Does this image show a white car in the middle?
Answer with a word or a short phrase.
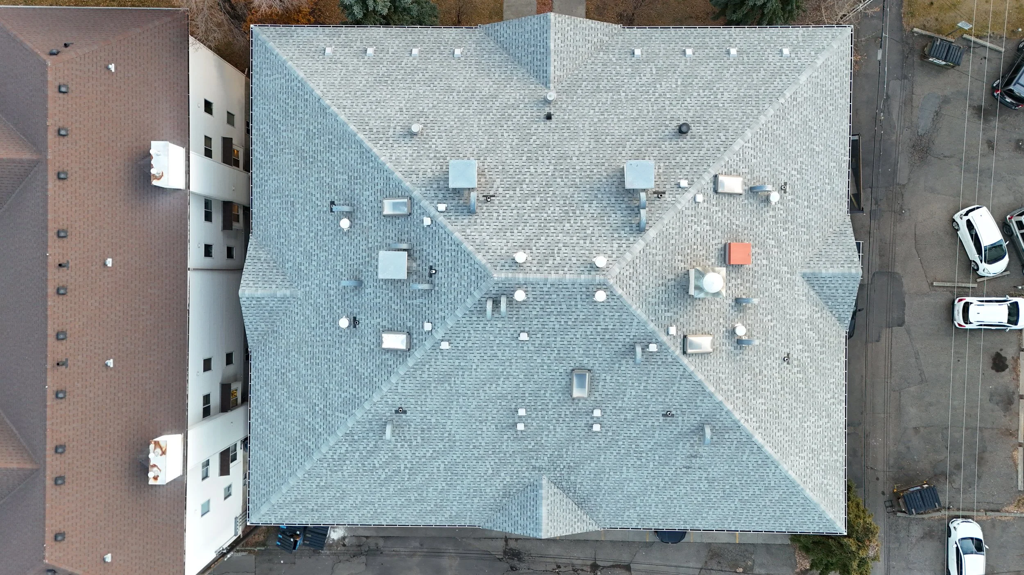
No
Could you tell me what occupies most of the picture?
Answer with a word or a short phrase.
buildings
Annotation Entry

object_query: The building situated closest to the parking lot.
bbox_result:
[239,11,862,539]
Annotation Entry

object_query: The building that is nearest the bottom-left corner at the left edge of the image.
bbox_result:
[0,6,252,575]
